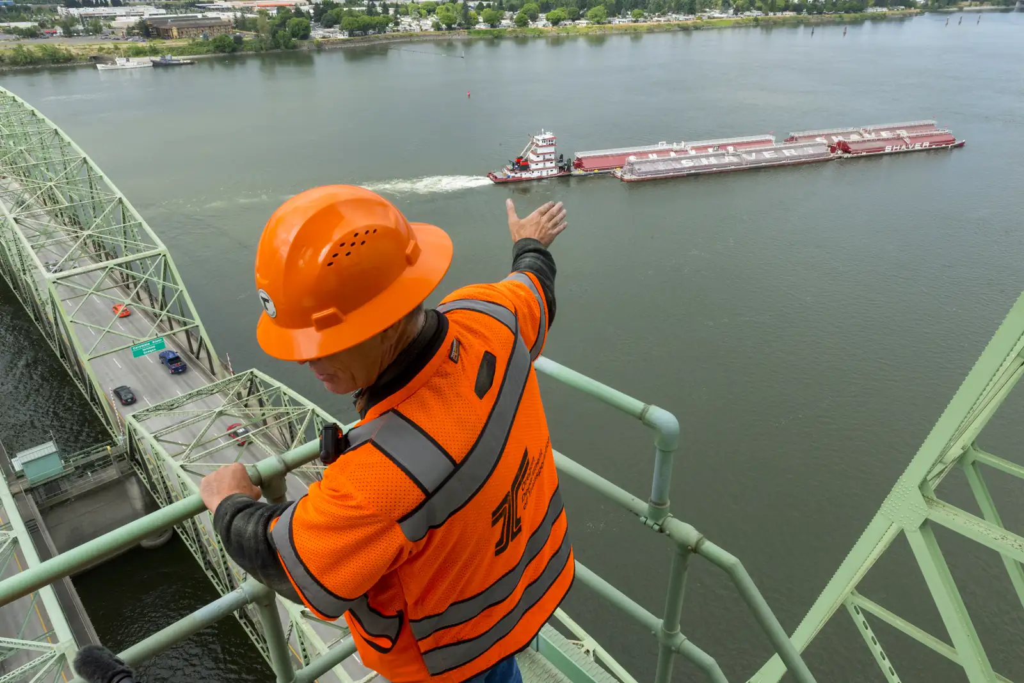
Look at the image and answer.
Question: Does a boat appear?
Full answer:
Yes, the photo shows a boat.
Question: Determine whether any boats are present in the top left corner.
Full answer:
Yes, the scene does show a boat in the top left corner.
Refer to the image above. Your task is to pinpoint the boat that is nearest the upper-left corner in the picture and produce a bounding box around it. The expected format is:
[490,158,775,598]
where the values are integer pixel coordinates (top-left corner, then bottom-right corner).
[95,50,153,69]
